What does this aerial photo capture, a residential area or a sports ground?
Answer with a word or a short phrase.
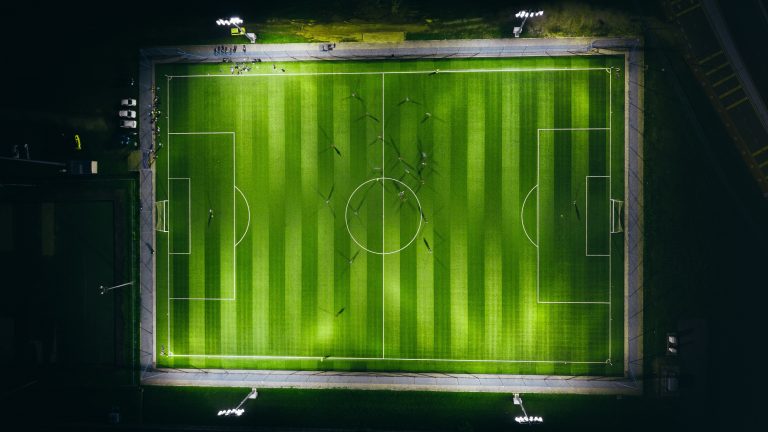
sports ground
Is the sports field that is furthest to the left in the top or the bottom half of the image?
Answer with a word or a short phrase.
bottom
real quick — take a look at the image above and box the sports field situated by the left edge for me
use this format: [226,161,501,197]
[0,185,124,381]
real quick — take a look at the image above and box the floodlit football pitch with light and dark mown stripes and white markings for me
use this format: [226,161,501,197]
[156,54,624,377]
